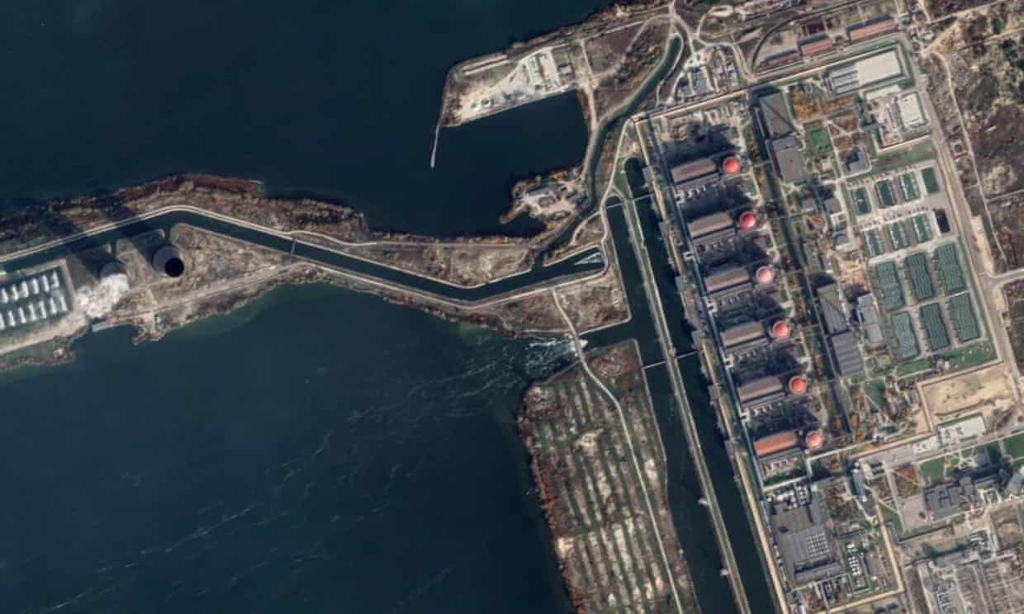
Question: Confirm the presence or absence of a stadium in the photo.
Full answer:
No, there is no stadium in the image.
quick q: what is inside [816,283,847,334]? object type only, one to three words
building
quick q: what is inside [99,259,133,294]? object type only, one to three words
cooling tower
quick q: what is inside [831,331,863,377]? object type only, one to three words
building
